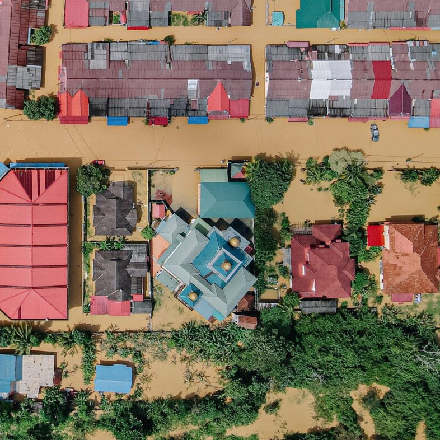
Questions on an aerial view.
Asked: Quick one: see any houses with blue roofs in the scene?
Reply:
Yes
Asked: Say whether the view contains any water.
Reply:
Yes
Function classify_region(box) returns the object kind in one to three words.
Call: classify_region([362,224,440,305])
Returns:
house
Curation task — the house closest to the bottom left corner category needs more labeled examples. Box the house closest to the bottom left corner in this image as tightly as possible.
[0,352,62,399]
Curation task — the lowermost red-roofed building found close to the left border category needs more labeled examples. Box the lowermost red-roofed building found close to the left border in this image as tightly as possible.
[0,162,69,320]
